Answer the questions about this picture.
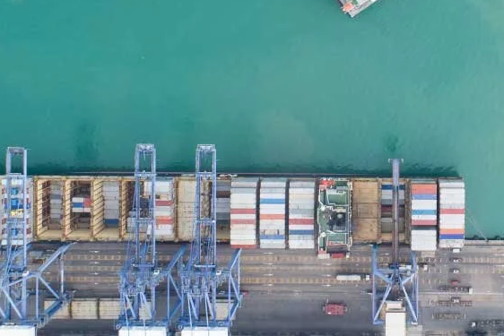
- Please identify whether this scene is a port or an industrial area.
port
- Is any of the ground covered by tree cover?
No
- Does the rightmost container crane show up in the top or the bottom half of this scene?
bottom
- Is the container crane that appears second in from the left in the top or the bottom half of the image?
bottom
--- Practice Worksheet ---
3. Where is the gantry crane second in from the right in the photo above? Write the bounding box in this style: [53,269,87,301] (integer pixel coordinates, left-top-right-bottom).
[176,146,251,336]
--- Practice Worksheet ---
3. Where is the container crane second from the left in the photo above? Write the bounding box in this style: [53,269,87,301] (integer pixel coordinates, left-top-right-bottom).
[114,146,193,336]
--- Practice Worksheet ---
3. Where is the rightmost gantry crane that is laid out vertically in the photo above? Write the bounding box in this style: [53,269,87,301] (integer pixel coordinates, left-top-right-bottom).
[371,154,422,336]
